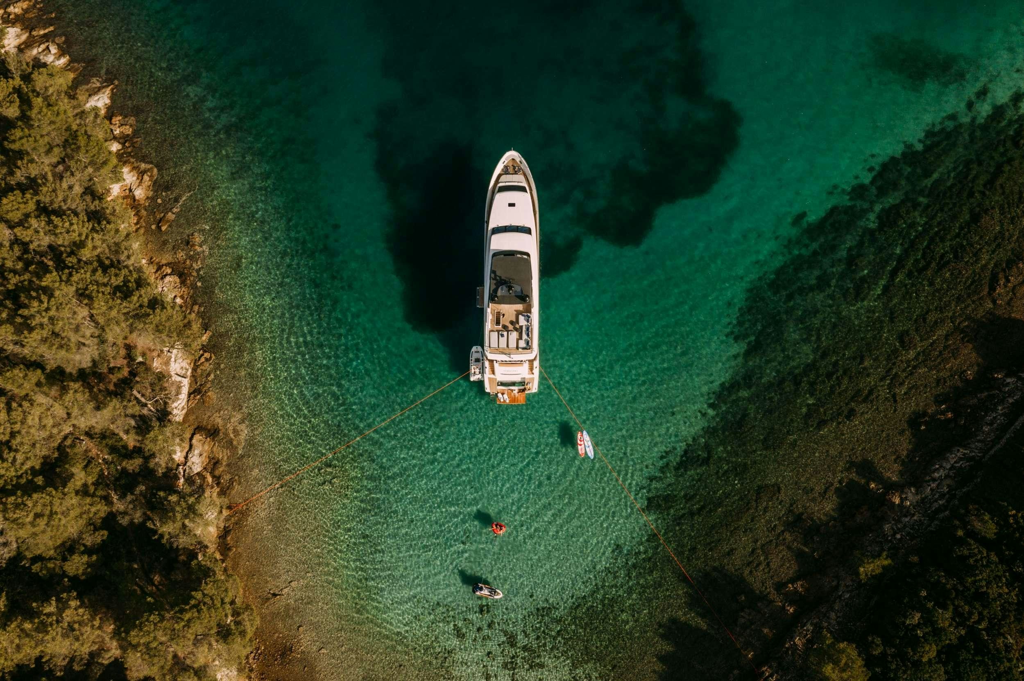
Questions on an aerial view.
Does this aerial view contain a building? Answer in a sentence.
No, there appears to be no building in this shot.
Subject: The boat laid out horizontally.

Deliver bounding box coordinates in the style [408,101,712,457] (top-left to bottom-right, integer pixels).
[471,584,503,599]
